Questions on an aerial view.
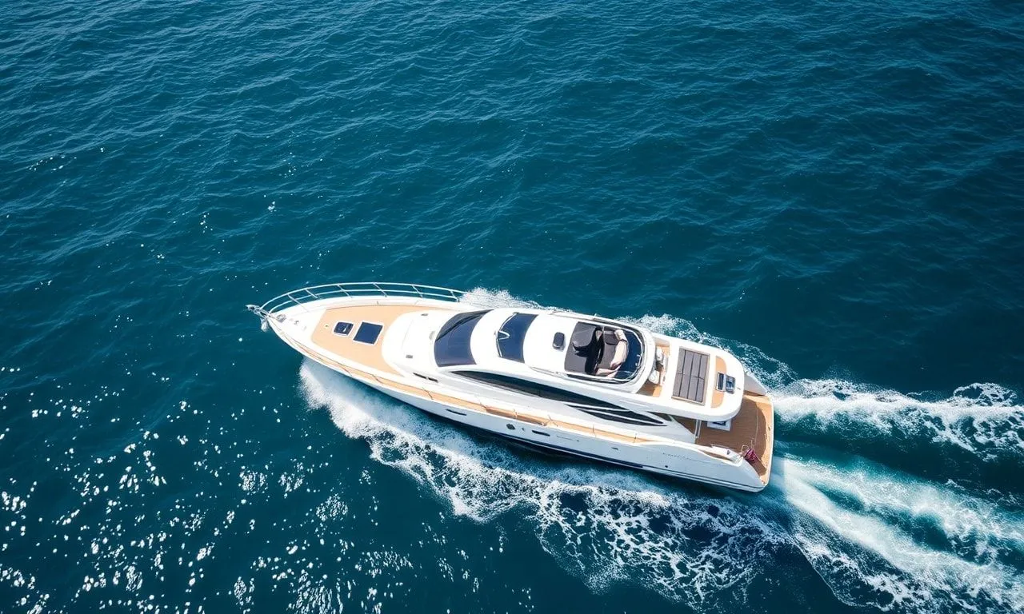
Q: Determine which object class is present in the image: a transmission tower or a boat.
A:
boat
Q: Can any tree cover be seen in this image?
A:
No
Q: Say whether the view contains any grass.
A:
No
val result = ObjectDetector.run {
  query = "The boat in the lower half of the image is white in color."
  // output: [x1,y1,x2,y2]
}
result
[246,285,774,493]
